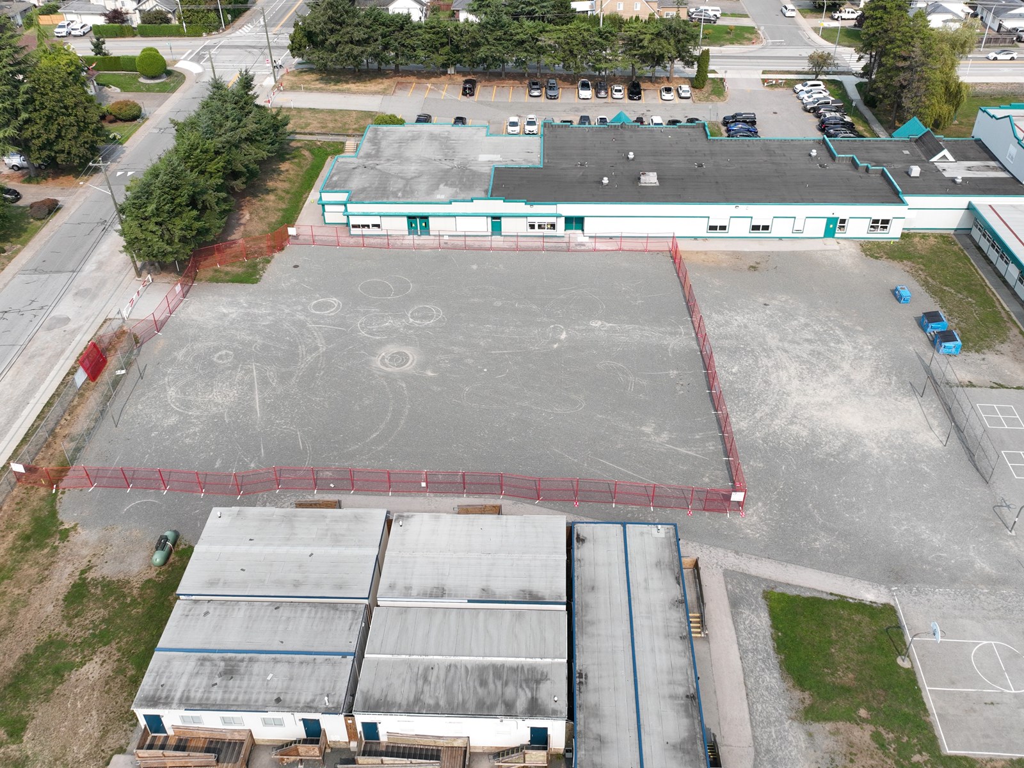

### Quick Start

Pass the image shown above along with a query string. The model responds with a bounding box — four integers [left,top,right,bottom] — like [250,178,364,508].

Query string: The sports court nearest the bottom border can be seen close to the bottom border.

[893,588,1024,768]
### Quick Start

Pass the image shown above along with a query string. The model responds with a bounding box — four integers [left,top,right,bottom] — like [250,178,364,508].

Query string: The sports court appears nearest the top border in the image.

[958,387,1024,533]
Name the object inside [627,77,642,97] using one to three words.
vehicle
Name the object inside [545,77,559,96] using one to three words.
car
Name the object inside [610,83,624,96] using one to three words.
vehicle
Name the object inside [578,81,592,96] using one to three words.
car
